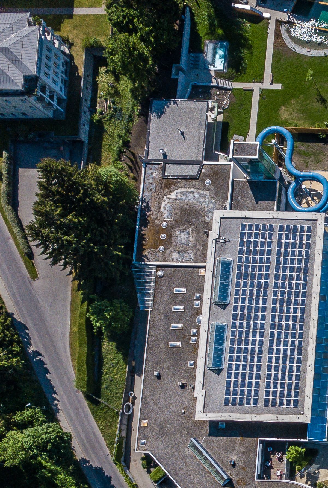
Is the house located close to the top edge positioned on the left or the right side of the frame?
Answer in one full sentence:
It is on the left.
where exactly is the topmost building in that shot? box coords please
[0,13,65,110]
